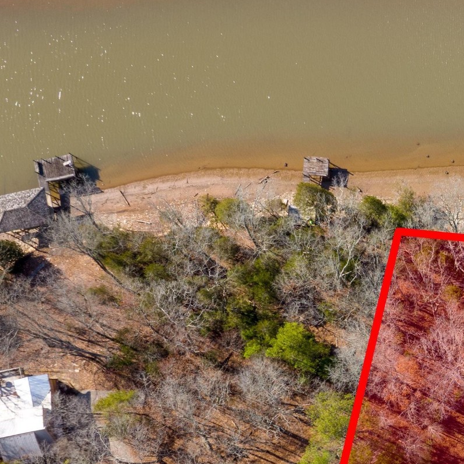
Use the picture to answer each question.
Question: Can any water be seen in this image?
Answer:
Yes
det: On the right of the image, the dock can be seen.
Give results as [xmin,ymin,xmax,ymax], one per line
[302,156,332,183]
